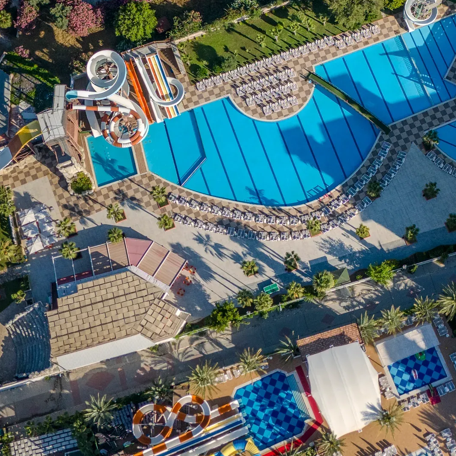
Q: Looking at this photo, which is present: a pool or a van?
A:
pool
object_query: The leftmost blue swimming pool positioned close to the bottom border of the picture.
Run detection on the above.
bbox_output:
[231,368,313,452]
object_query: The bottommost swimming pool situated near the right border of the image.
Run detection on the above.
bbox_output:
[382,344,451,398]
